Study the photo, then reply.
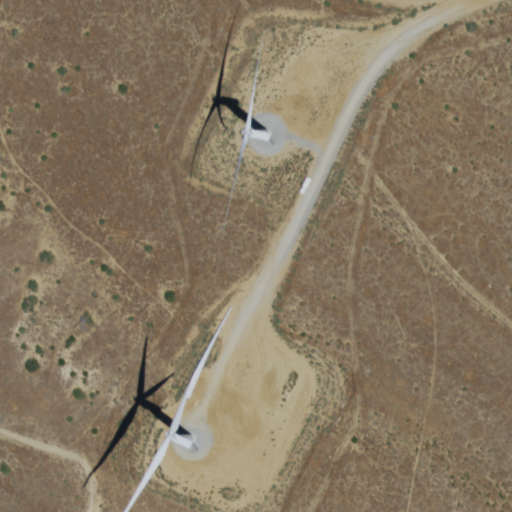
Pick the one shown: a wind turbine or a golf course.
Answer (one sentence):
Looking from above, you can make out a wind turbine.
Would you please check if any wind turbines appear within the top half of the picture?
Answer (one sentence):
Yes, a wind turbine shows up within the top half of the picture.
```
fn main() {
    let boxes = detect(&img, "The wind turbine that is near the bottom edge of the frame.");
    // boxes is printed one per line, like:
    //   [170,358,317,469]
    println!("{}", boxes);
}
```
[136,353,214,512]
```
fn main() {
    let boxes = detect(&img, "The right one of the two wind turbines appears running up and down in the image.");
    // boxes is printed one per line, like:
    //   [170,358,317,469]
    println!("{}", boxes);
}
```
[236,24,277,219]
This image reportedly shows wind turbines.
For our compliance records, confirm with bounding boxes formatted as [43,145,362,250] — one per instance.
[236,24,277,219]
[136,353,214,512]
